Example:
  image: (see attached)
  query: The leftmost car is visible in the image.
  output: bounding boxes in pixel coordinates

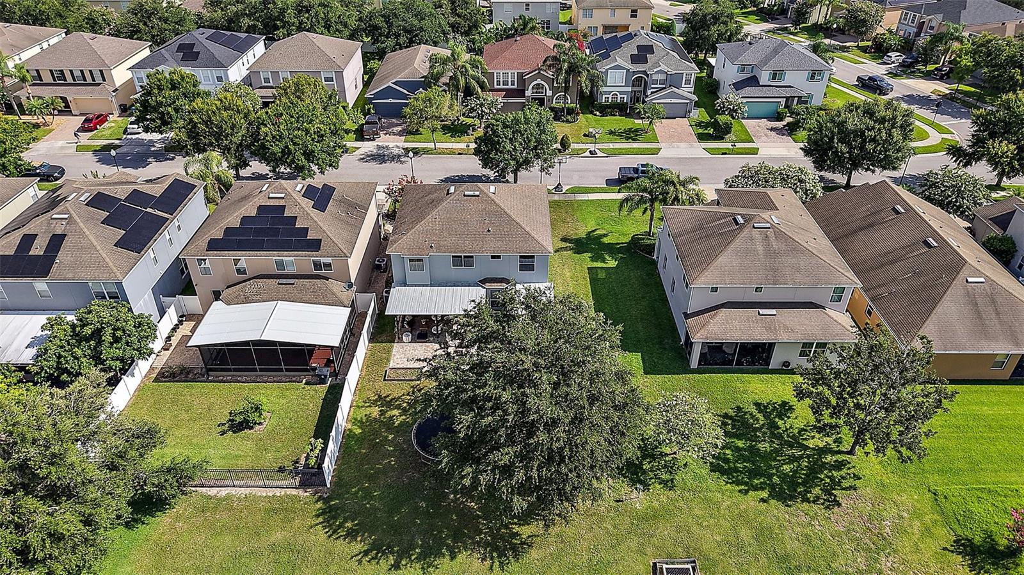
[13,163,63,182]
